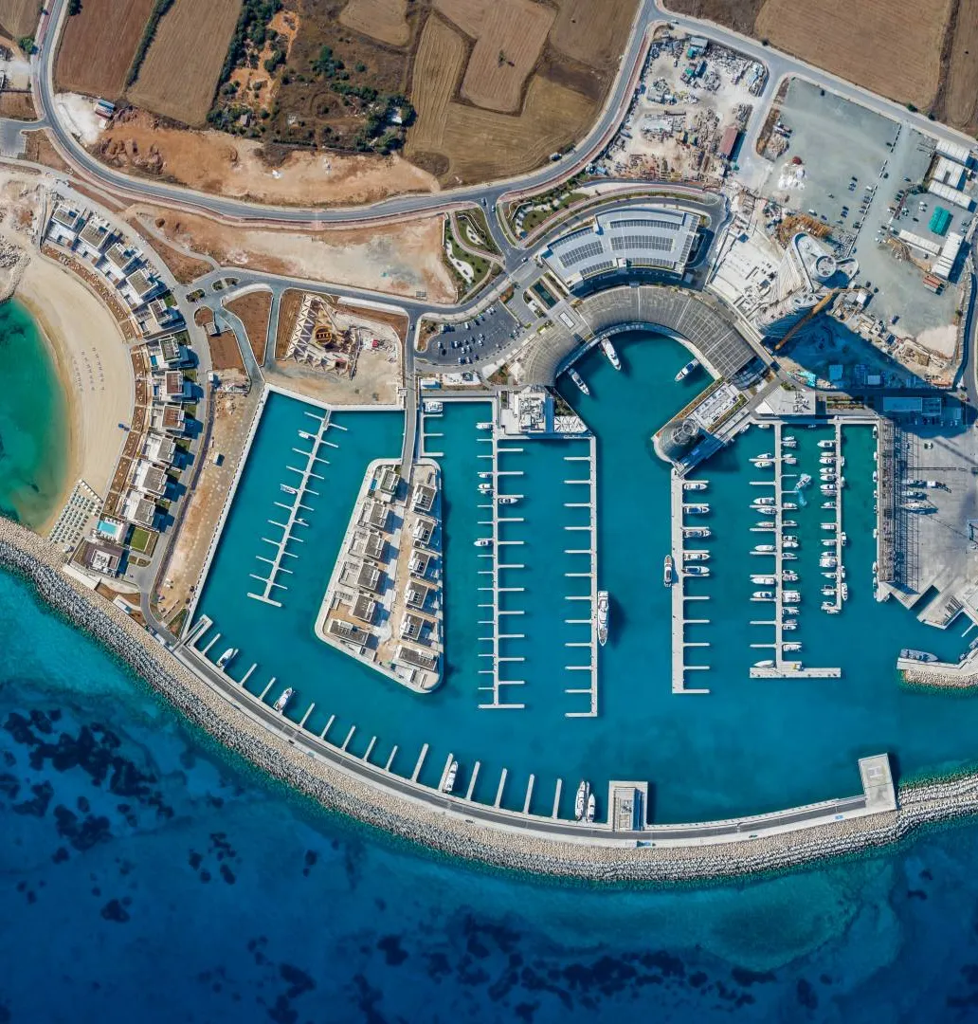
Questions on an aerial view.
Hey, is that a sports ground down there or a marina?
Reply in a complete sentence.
The area seen from above is a marina.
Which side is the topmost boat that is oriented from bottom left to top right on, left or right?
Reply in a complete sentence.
You can find the topmost boat that is oriented from bottom left to top right on the right side of the picture.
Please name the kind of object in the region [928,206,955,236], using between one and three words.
tent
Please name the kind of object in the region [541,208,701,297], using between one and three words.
building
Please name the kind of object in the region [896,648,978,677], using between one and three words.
pier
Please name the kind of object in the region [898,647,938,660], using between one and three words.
boat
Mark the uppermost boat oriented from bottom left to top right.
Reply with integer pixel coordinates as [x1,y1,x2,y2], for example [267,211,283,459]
[676,358,701,380]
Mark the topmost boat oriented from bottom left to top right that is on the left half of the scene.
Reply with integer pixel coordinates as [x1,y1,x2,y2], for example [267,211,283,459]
[217,649,234,668]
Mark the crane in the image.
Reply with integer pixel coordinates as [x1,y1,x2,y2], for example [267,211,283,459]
[775,288,888,350]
